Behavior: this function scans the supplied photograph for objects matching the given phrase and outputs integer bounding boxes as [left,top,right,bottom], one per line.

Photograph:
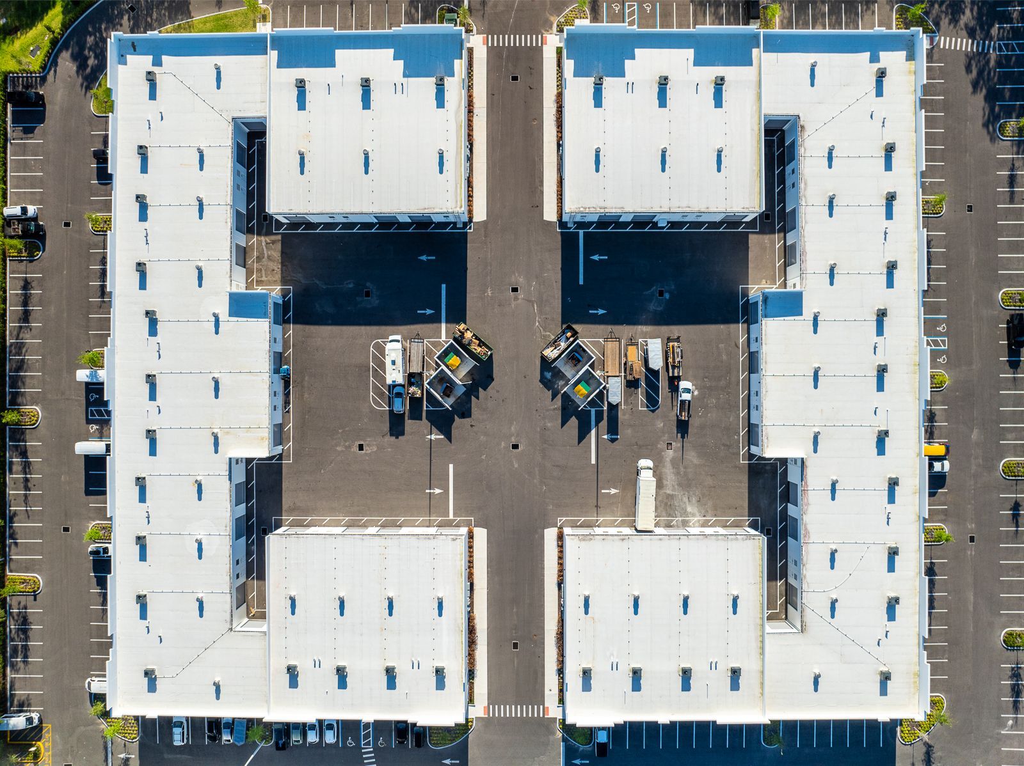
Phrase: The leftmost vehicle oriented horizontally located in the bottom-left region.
[0,711,46,732]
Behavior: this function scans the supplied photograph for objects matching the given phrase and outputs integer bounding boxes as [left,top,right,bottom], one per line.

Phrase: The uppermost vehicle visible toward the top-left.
[2,88,46,106]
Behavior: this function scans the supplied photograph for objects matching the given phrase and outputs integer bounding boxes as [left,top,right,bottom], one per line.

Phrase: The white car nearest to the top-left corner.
[4,204,39,219]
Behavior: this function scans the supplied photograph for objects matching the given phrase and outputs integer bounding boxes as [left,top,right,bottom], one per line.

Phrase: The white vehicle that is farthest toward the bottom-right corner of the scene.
[926,459,949,473]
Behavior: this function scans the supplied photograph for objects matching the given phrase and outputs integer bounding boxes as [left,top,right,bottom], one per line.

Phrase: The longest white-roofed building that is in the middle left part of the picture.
[104,31,285,718]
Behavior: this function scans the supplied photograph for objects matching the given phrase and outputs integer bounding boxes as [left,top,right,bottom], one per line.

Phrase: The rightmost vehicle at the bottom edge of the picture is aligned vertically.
[595,726,610,758]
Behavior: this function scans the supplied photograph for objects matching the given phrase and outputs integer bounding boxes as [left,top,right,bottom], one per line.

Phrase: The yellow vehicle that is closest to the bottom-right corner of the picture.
[923,442,946,457]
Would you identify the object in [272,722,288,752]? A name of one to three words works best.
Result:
vehicle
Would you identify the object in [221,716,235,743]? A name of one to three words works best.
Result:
car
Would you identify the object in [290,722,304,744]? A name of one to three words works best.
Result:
car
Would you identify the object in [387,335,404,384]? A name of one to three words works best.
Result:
camper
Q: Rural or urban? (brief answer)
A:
urban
